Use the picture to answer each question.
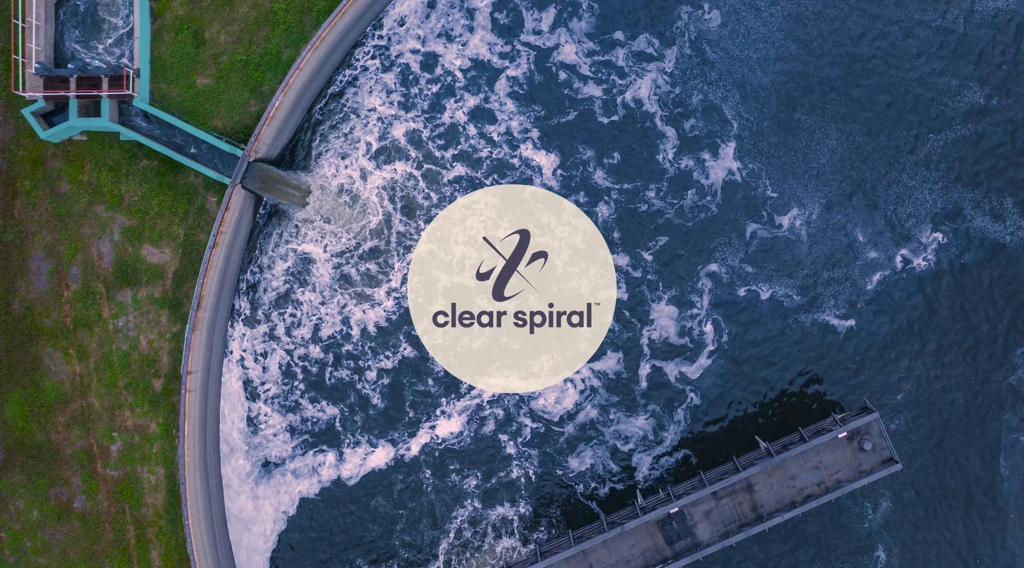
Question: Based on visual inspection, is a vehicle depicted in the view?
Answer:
No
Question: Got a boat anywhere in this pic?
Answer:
No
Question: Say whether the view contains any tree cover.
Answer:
No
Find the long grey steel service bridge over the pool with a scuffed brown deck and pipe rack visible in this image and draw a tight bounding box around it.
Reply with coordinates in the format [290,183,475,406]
[490,393,904,568]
